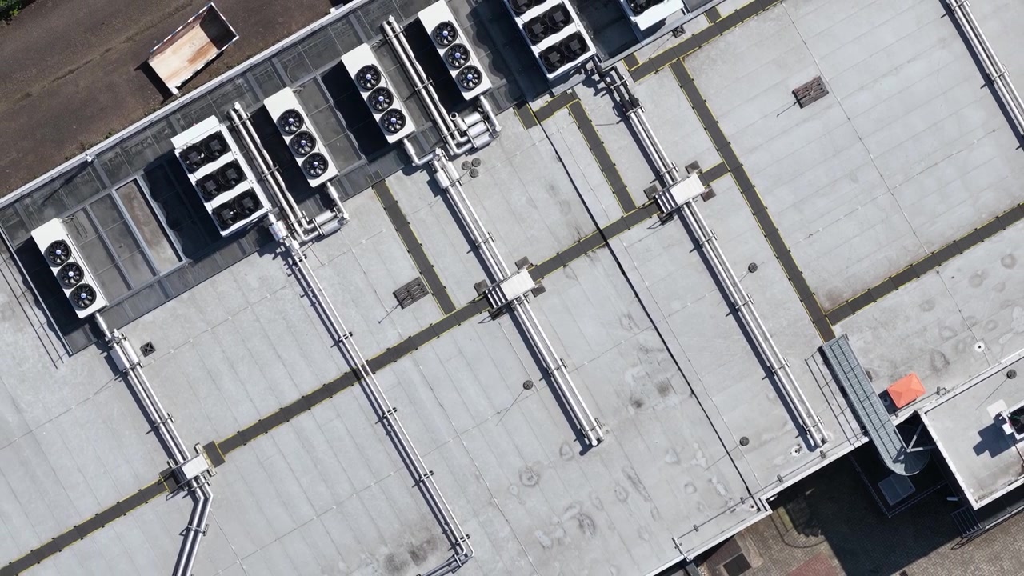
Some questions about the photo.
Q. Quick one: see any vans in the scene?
No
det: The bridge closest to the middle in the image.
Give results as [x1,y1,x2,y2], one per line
[481,257,546,318]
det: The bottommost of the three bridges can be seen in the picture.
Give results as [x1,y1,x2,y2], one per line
[160,440,227,491]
